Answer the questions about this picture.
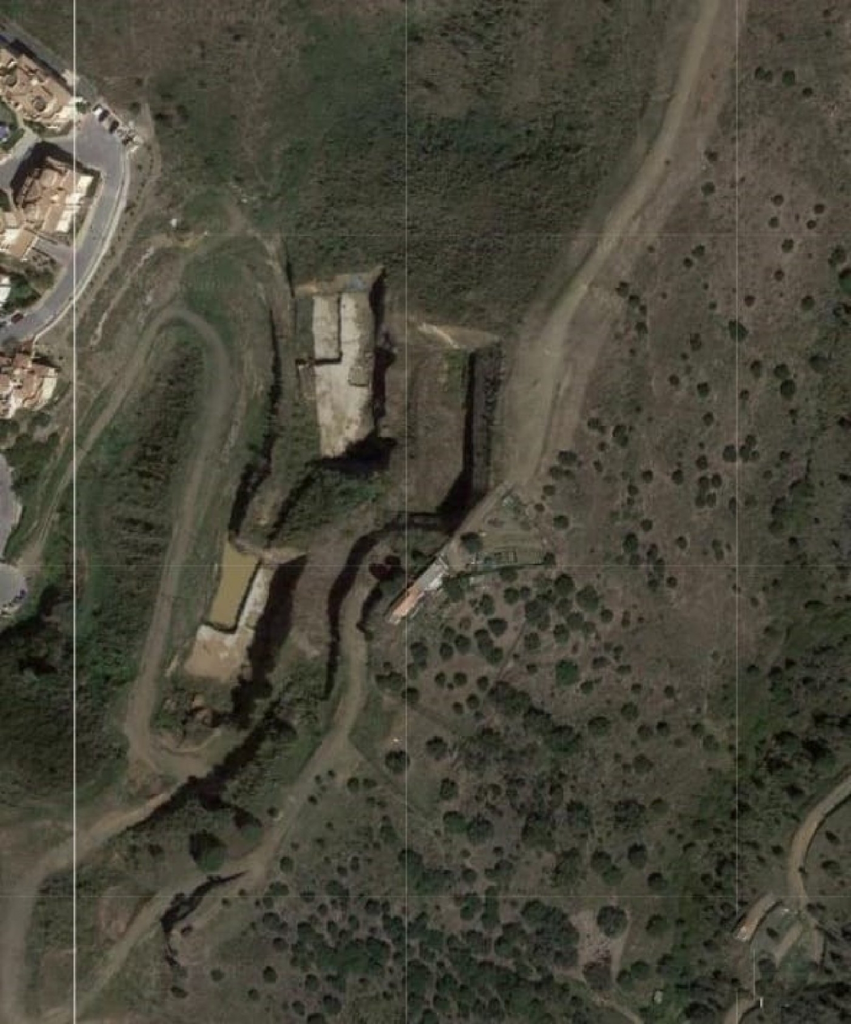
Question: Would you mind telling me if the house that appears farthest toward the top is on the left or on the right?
left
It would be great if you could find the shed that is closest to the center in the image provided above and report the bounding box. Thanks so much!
[389,557,449,625]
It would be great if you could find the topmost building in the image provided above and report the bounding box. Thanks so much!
[0,48,83,132]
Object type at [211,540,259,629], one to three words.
pond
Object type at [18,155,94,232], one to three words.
house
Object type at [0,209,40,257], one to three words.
house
